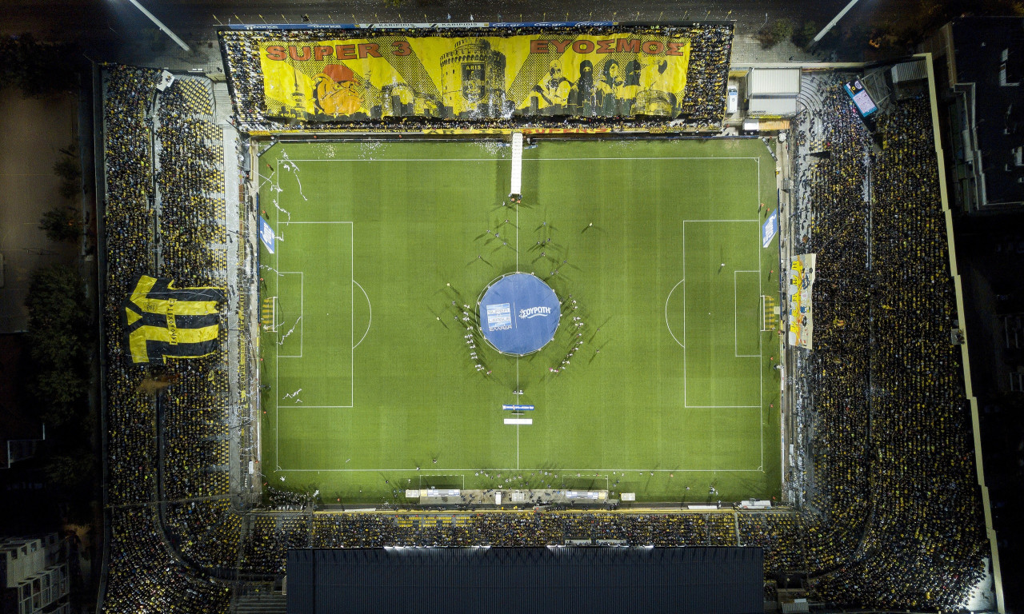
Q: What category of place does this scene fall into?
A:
sports ground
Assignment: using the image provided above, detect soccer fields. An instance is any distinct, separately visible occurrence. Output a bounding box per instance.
[256,136,778,500]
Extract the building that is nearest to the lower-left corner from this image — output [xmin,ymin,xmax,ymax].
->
[0,506,90,614]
